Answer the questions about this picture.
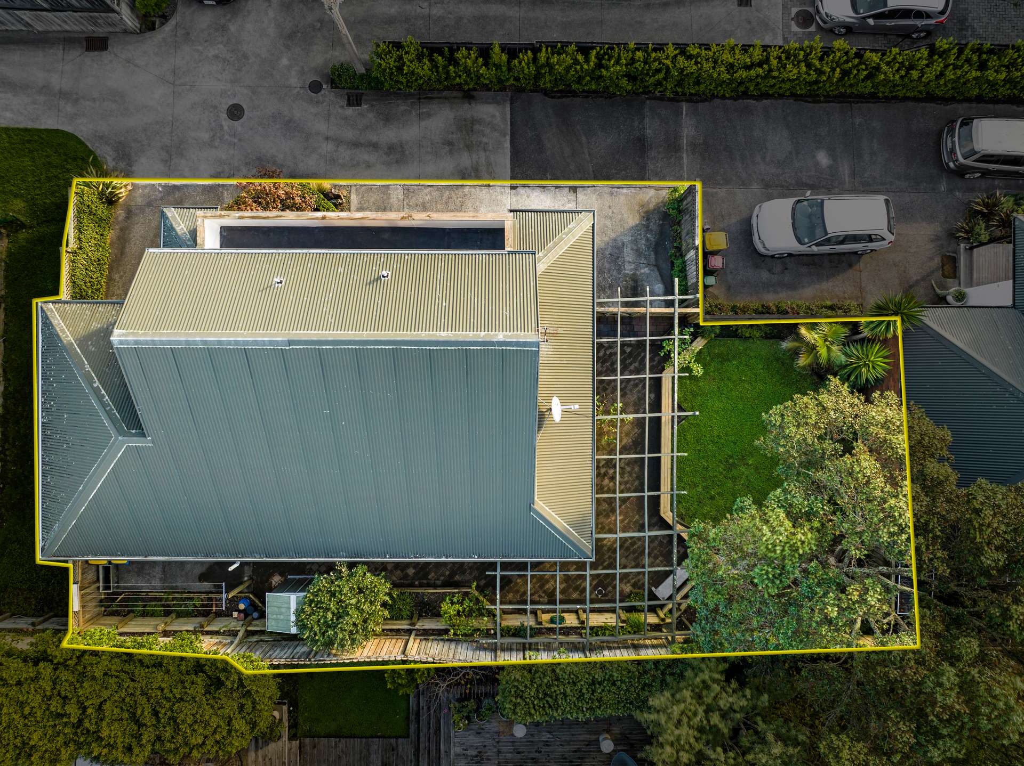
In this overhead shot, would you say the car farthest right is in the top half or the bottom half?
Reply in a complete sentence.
You can find the car farthest right in the top half.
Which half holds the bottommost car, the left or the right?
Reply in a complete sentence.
The bottommost car is on the right side of the image.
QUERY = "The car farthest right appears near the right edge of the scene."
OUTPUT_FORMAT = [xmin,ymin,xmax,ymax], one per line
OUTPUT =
[940,112,1024,180]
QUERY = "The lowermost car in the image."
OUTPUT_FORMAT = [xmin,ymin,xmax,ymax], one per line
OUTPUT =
[749,187,898,258]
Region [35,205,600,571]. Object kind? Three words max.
house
